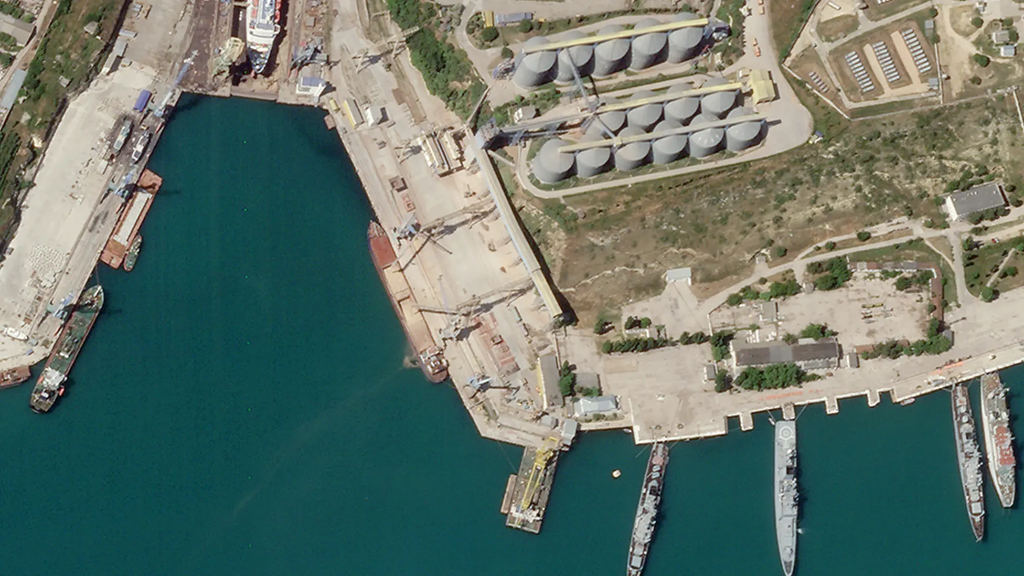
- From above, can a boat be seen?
Yes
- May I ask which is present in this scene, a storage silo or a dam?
storage silo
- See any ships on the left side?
Yes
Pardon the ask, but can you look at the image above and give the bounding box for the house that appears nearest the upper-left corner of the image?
[0,17,40,51]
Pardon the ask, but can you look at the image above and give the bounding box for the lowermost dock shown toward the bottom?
[498,475,517,516]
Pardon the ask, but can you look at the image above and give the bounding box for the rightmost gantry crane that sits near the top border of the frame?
[352,24,421,71]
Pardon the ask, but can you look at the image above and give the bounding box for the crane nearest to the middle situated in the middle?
[453,276,535,322]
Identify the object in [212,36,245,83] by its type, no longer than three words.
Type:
crane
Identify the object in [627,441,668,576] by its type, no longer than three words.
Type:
ship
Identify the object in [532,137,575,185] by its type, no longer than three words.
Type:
silo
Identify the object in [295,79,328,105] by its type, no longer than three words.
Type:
building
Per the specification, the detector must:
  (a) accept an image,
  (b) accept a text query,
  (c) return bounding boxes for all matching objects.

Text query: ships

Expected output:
[950,383,984,539]
[34,285,102,418]
[505,437,558,535]
[372,220,448,385]
[627,441,668,576]
[0,363,32,392]
[774,420,799,576]
[977,374,1016,505]
[101,171,162,270]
